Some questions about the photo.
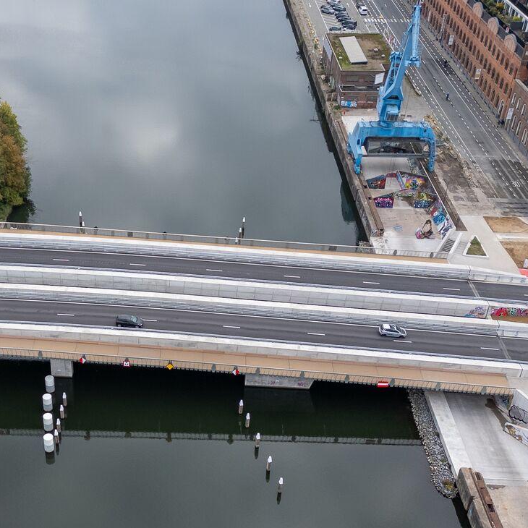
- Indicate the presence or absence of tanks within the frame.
No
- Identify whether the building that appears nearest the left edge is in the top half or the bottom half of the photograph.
top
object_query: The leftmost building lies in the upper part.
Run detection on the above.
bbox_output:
[321,31,387,107]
